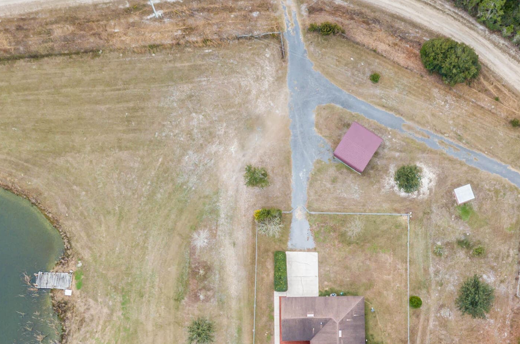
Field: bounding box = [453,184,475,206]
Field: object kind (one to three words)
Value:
shed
